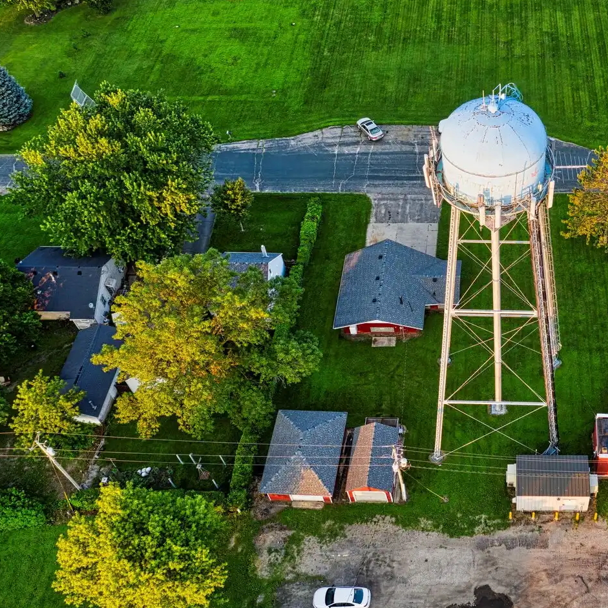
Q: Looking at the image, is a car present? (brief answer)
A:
Yes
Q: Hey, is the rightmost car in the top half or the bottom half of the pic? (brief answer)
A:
top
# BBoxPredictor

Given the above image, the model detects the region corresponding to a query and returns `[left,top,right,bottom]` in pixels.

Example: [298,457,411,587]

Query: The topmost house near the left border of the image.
[12,254,128,344]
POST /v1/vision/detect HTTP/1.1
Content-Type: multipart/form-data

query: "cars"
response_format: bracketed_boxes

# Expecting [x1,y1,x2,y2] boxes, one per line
[312,585,371,608]
[357,118,385,142]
